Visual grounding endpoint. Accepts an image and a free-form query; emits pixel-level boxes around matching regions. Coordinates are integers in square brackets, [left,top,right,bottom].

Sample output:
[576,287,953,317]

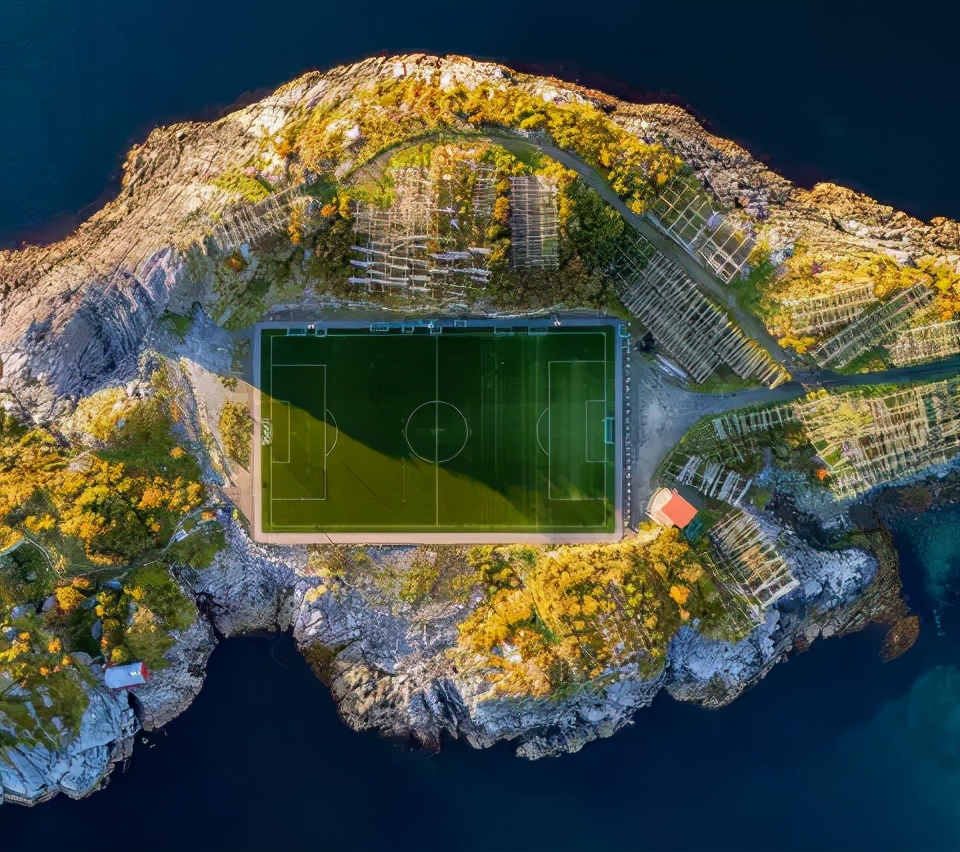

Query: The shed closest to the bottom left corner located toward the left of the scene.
[106,660,153,688]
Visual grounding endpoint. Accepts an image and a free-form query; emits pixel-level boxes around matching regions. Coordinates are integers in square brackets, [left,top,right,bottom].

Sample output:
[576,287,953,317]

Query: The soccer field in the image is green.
[254,319,623,543]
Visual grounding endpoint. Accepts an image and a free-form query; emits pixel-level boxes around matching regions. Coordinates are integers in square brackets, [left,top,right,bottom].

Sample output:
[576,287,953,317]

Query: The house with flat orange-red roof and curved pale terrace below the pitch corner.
[643,486,698,529]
